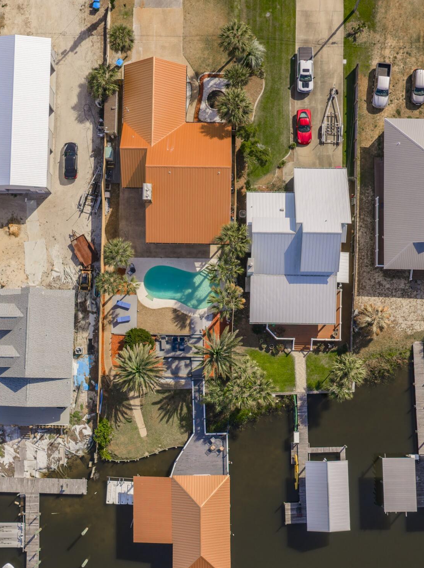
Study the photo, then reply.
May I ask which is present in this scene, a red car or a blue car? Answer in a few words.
red car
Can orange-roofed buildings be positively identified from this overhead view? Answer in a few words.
Yes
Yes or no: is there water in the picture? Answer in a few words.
Yes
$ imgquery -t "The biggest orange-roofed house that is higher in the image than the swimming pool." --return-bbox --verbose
[120,56,232,245]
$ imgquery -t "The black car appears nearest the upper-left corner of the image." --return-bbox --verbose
[62,143,80,180]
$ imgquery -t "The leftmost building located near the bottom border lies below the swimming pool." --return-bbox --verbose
[133,474,231,568]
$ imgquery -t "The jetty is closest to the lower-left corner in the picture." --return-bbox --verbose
[0,523,24,548]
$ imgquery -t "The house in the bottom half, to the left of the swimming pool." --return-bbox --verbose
[0,287,76,437]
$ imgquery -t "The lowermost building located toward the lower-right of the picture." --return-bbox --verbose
[304,460,350,532]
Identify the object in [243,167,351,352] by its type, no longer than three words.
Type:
house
